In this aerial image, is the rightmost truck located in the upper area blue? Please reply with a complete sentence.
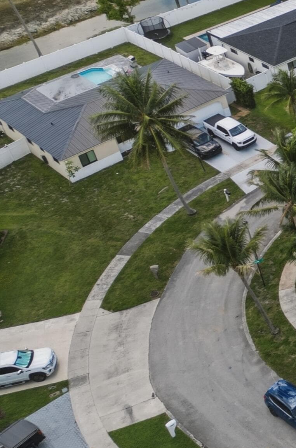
No, the color of the rightmost truck located in the upper area is white.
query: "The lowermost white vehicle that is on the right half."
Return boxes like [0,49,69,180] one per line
[202,116,257,150]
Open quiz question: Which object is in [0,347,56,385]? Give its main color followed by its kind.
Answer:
white truck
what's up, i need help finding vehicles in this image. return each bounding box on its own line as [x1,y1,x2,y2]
[174,124,220,157]
[0,347,56,385]
[258,378,296,433]
[0,413,56,448]
[202,116,257,150]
